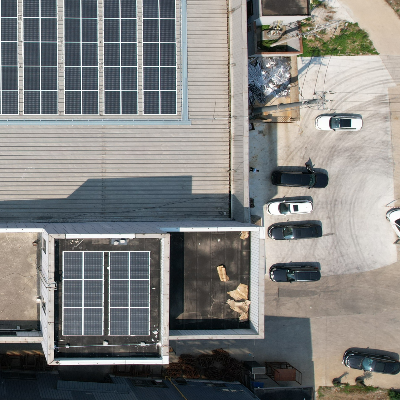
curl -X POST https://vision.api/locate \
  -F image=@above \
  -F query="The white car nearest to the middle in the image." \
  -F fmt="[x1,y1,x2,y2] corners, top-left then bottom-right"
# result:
[265,199,314,217]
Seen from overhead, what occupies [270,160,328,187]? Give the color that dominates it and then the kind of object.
black car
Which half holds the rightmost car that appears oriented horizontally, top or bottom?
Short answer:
bottom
